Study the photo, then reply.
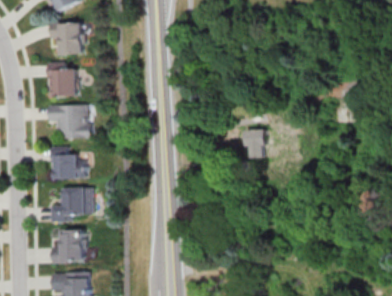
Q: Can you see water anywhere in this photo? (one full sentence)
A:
No, no water is visible.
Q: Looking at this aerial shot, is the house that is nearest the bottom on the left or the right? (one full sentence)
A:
You can find the house that is nearest the bottom on the left side of the picture.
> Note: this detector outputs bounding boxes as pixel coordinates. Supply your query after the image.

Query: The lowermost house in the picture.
[52,272,91,296]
